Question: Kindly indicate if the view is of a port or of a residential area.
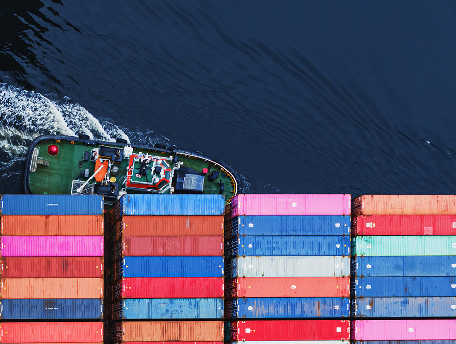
port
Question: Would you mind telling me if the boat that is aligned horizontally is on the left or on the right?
left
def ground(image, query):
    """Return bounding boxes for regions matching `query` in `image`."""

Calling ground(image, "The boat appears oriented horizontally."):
[21,132,242,205]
